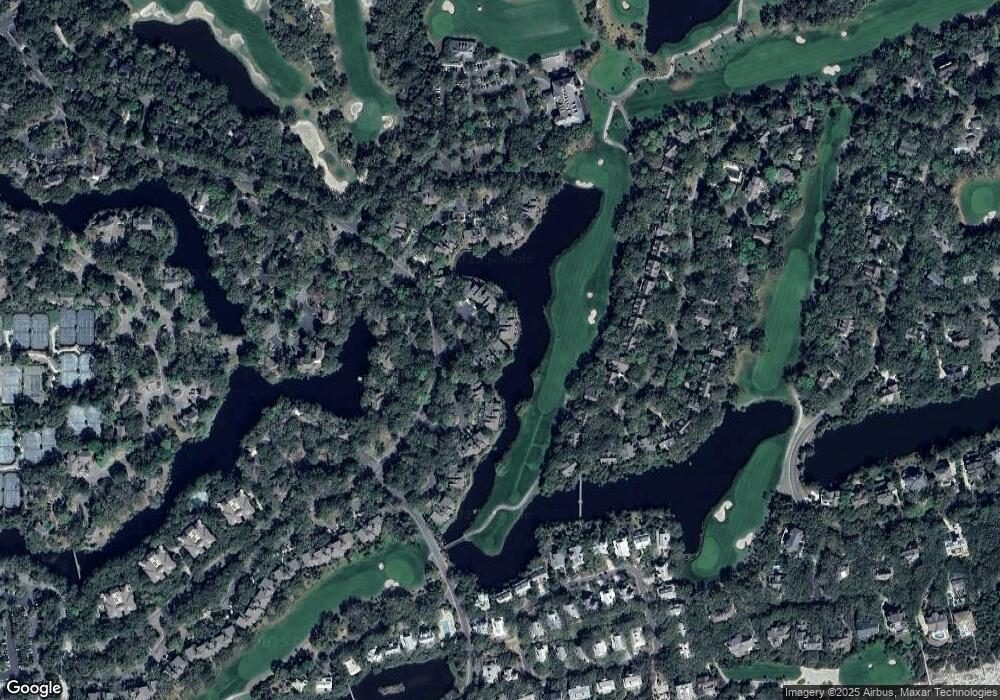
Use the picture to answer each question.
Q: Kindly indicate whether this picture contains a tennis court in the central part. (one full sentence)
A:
No, I see no tennis court in the central part.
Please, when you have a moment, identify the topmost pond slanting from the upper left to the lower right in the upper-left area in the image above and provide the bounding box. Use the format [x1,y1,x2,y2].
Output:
[131,20,280,116]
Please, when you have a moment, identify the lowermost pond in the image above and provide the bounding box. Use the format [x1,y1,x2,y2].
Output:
[344,658,458,700]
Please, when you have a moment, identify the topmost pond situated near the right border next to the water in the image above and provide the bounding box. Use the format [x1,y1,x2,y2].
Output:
[804,391,1000,484]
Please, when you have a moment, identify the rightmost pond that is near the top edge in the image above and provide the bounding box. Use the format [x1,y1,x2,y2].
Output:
[645,0,733,55]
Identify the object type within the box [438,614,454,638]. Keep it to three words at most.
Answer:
swimming pool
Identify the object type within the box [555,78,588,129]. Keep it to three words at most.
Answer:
building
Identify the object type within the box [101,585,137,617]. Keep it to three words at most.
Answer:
house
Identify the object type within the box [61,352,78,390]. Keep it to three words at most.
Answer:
tennis court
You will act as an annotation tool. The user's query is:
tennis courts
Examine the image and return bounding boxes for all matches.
[3,472,21,509]
[78,351,94,385]
[30,312,48,350]
[61,352,78,390]
[84,404,100,433]
[21,430,40,461]
[0,429,16,464]
[13,312,30,350]
[2,365,21,403]
[67,404,84,434]
[76,309,95,345]
[41,428,57,458]
[59,309,76,345]
[22,366,42,401]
